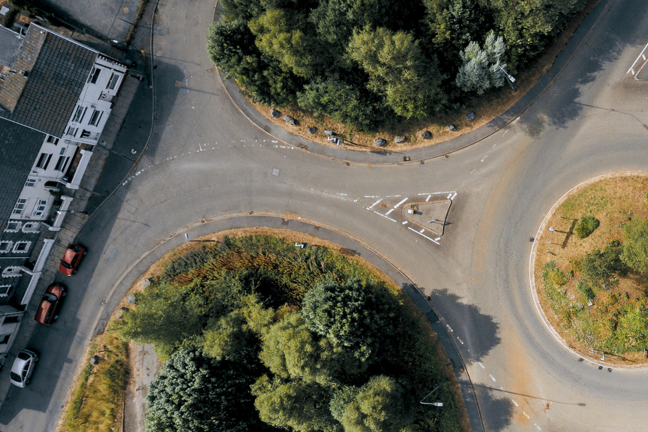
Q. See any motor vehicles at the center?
No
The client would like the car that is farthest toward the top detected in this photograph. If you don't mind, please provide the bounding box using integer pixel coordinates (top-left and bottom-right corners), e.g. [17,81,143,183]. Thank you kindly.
[59,240,90,278]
